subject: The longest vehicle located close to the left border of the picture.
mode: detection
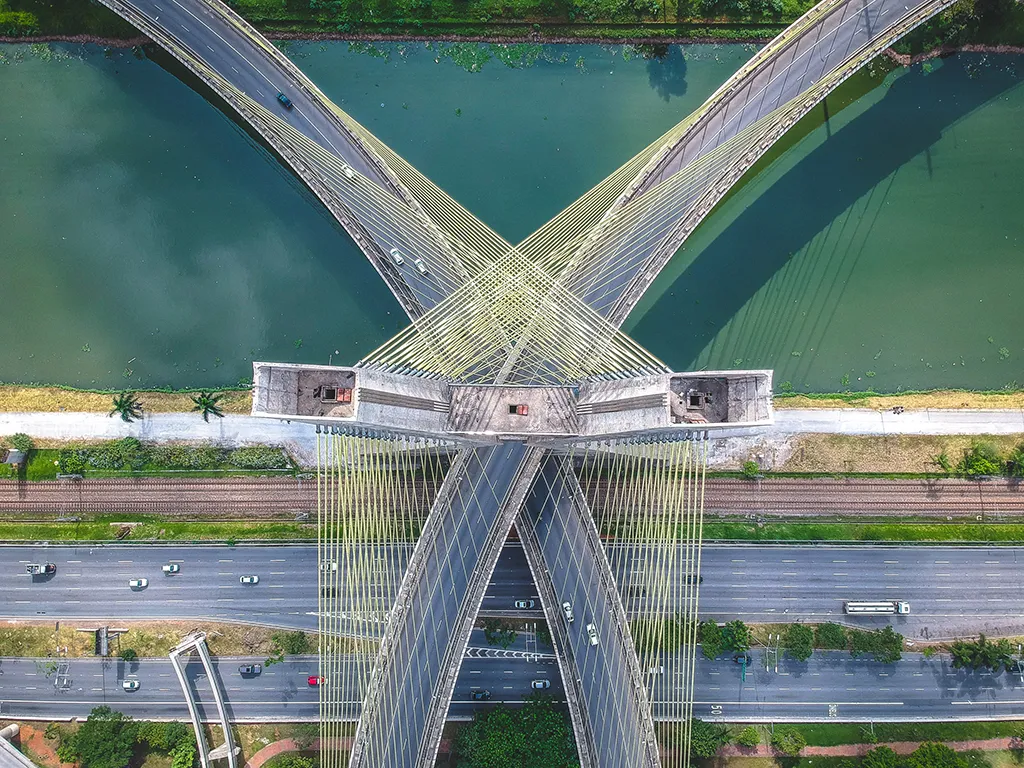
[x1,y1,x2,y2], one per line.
[25,563,57,575]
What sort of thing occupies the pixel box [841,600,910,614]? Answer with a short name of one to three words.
vehicle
